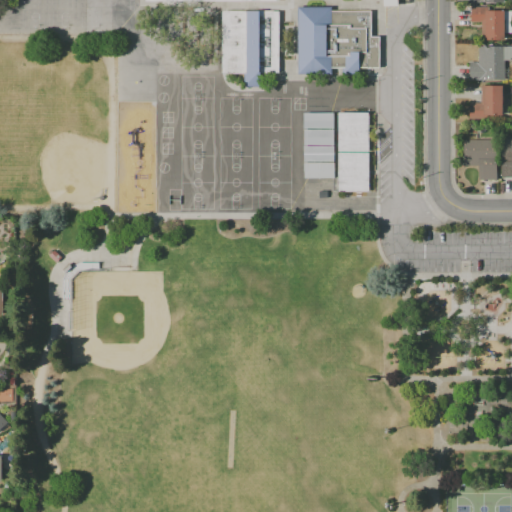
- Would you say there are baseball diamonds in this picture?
Yes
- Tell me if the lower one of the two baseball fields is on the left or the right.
left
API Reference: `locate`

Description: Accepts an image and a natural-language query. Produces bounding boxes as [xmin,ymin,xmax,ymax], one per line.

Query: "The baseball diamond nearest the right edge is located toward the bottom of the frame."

[72,270,170,369]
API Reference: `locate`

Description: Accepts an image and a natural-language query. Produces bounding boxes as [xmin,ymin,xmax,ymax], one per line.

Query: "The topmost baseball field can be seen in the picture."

[0,42,110,205]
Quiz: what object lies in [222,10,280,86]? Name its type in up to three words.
building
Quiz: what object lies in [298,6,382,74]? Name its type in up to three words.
building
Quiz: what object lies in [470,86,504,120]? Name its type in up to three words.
house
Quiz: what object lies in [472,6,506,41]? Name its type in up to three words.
house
